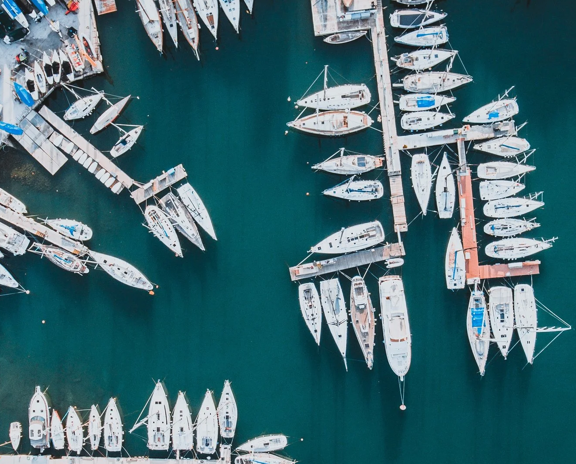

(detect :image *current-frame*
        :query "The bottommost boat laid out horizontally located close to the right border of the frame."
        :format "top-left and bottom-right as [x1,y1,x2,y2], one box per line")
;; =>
[479,235,559,260]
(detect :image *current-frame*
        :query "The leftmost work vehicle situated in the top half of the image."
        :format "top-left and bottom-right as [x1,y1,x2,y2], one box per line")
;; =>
[16,49,33,64]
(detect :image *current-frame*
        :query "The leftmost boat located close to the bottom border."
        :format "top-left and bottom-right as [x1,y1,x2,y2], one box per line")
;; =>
[0,422,23,453]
